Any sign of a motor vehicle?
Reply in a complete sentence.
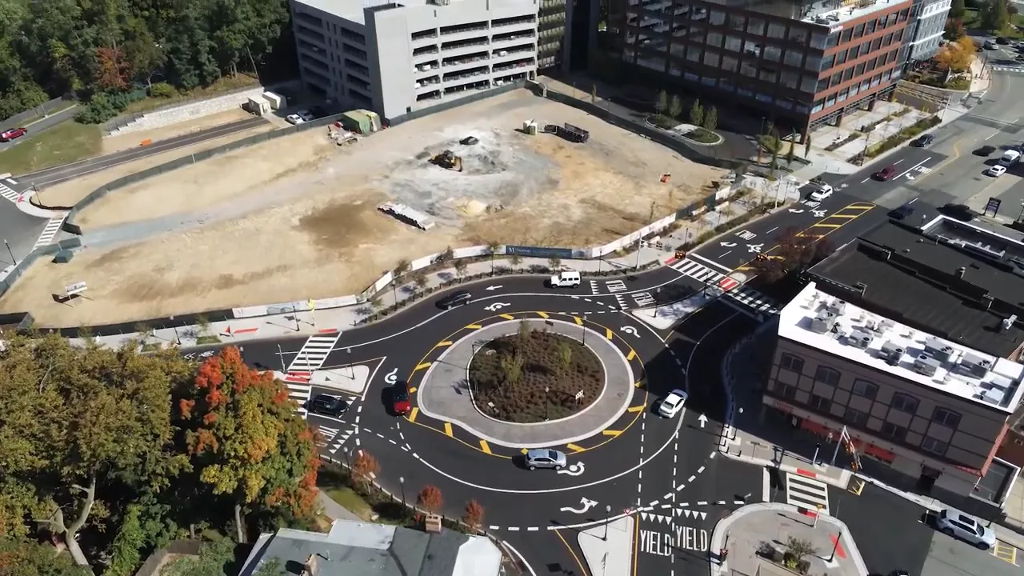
Yes, the frame does contain a motor vehicle.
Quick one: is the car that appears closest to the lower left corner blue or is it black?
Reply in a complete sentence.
The color of the car that appears closest to the lower left corner is black.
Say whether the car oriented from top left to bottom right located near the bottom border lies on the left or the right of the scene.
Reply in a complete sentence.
The car oriented from top left to bottom right located near the bottom border is on the right side of the image.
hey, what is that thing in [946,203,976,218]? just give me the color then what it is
black car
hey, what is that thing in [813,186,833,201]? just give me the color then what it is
white car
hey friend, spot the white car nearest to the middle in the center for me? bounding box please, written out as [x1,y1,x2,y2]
[551,270,581,287]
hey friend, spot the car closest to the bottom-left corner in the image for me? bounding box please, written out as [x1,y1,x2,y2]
[305,391,349,413]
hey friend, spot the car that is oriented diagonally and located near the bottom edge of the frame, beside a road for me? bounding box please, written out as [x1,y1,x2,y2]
[940,507,1000,550]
